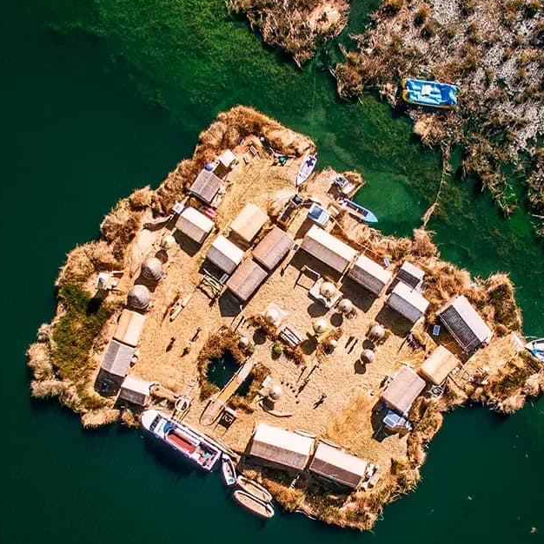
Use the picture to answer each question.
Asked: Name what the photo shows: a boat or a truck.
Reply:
boat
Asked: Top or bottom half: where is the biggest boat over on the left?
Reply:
bottom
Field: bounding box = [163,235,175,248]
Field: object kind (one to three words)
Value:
umbrella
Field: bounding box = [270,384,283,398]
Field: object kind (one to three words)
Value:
umbrella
